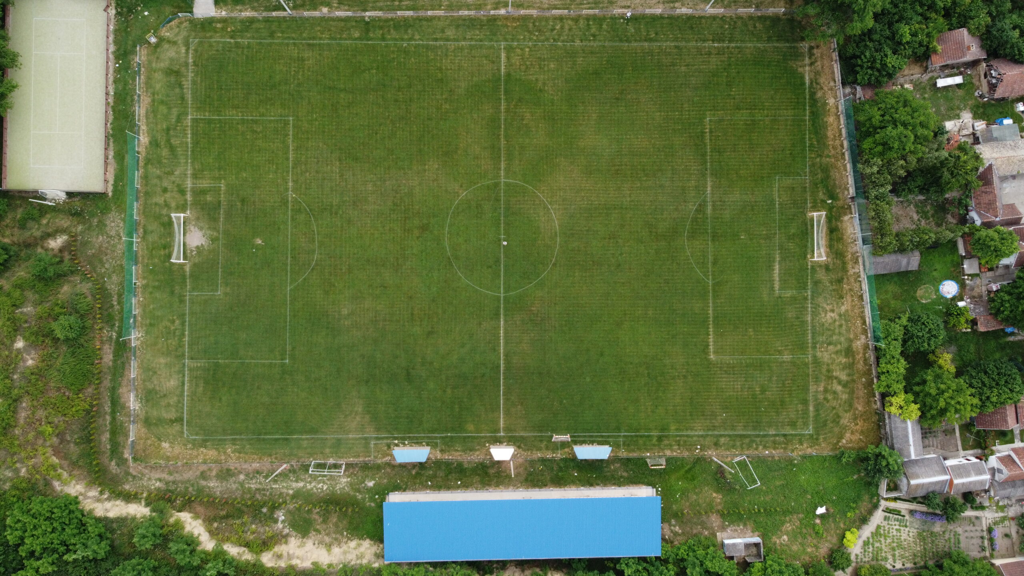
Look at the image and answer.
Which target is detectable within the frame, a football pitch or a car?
football pitch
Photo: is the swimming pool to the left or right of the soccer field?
right of it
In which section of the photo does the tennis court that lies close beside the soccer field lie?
top left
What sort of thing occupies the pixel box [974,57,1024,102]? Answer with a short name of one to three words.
house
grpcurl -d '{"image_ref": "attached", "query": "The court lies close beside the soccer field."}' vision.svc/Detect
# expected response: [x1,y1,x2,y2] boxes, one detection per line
[6,0,109,193]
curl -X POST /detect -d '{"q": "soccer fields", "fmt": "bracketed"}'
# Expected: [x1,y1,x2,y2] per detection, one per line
[133,13,881,465]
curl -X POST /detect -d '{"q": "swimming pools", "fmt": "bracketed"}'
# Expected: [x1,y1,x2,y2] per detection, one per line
[939,279,962,299]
